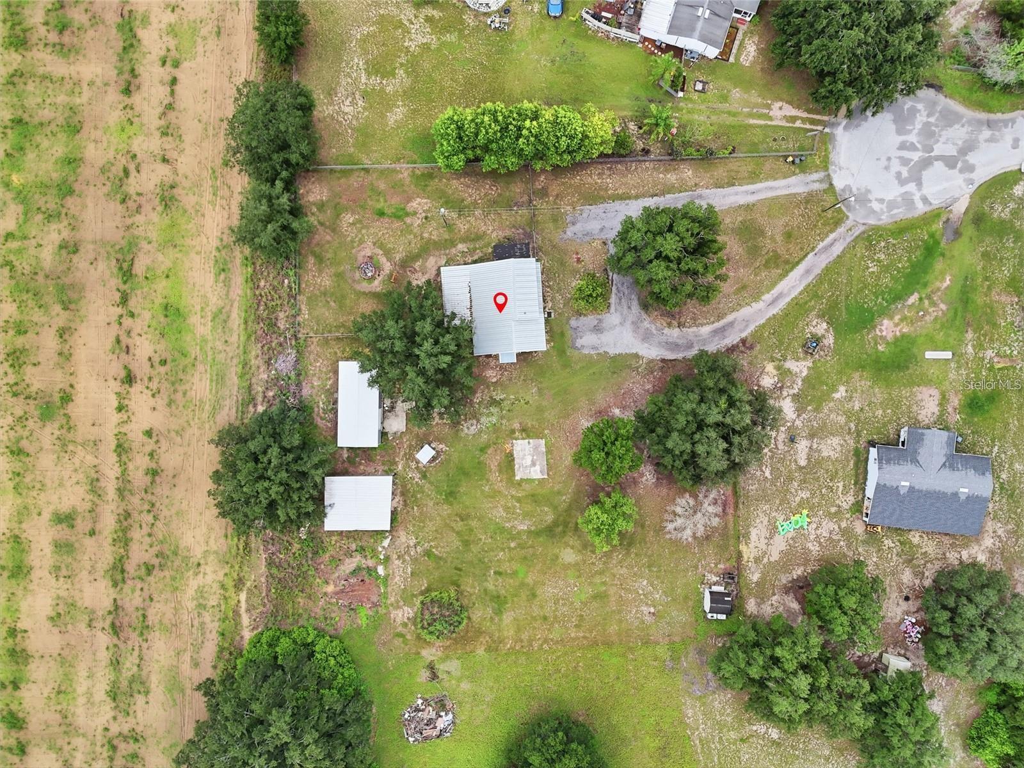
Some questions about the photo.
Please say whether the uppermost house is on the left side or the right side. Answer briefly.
right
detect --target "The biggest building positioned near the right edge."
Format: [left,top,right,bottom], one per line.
[858,427,994,536]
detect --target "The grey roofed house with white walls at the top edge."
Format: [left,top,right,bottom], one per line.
[640,0,760,59]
